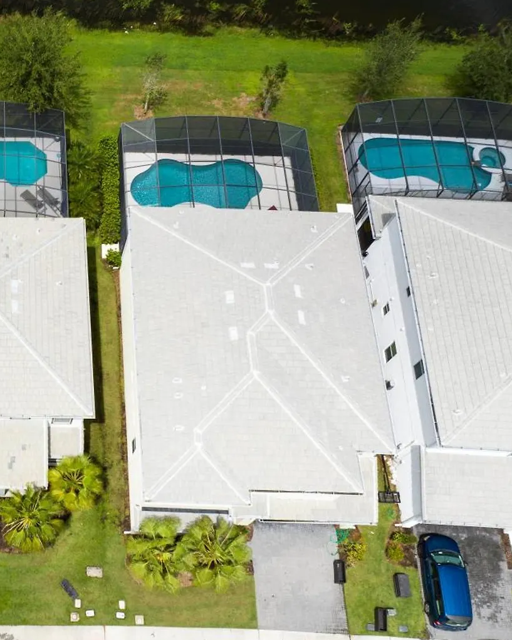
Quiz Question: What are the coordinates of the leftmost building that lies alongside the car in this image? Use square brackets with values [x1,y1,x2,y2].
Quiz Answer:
[121,206,397,546]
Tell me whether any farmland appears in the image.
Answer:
No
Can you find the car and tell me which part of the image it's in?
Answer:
bottom right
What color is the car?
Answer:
blue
